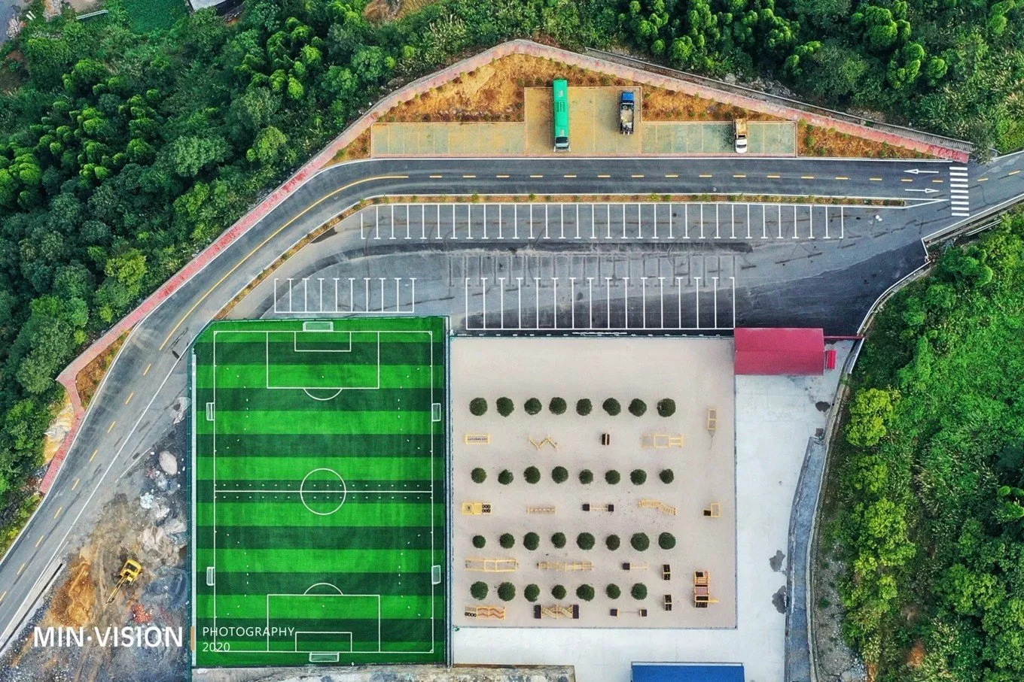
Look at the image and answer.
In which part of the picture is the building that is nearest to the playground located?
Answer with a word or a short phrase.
right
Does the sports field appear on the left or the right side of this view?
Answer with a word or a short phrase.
left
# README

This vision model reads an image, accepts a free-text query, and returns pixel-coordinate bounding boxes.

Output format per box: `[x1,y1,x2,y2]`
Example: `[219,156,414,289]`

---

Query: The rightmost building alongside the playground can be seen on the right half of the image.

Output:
[734,327,827,375]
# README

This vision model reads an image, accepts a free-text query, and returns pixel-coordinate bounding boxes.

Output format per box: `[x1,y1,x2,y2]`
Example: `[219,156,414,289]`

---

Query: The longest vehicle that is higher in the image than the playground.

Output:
[554,81,572,151]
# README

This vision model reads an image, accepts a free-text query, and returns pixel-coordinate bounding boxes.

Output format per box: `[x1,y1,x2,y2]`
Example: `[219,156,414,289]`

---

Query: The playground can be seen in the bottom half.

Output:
[452,338,737,630]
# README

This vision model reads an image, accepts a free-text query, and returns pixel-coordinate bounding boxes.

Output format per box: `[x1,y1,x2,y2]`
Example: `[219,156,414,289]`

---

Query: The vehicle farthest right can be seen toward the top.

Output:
[736,116,750,152]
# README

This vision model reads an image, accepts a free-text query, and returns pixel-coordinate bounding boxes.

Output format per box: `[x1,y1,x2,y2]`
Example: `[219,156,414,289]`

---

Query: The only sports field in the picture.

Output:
[196,317,446,667]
